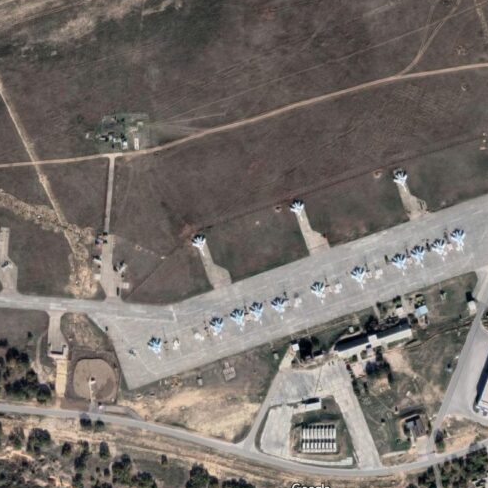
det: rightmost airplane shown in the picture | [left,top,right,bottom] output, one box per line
[451,229,465,250]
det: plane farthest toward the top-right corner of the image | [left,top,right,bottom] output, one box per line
[393,167,407,189]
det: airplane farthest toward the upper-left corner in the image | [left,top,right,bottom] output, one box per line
[190,232,204,254]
